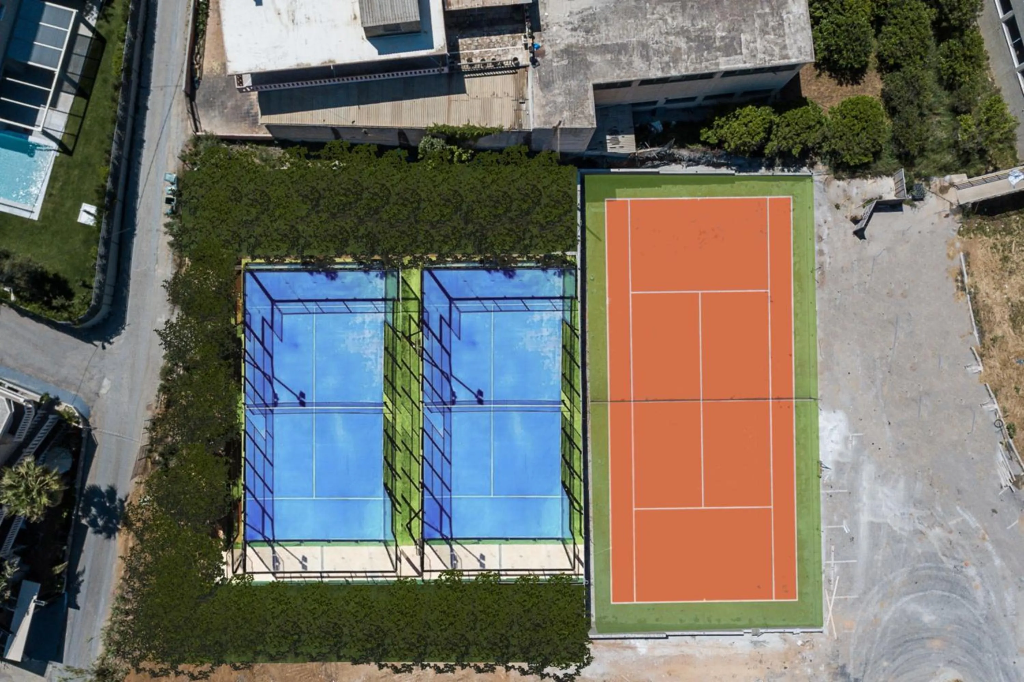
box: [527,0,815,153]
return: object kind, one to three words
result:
building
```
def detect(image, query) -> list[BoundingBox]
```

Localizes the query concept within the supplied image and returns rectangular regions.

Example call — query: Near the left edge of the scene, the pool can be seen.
[0,130,58,220]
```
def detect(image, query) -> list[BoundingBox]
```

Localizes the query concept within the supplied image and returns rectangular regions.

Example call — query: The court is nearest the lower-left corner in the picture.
[246,270,398,547]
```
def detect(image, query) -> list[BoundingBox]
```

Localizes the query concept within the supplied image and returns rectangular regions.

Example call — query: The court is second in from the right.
[425,269,574,545]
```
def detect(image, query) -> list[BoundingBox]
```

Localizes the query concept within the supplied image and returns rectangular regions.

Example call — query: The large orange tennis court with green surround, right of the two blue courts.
[582,172,825,636]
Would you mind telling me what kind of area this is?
sports ground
